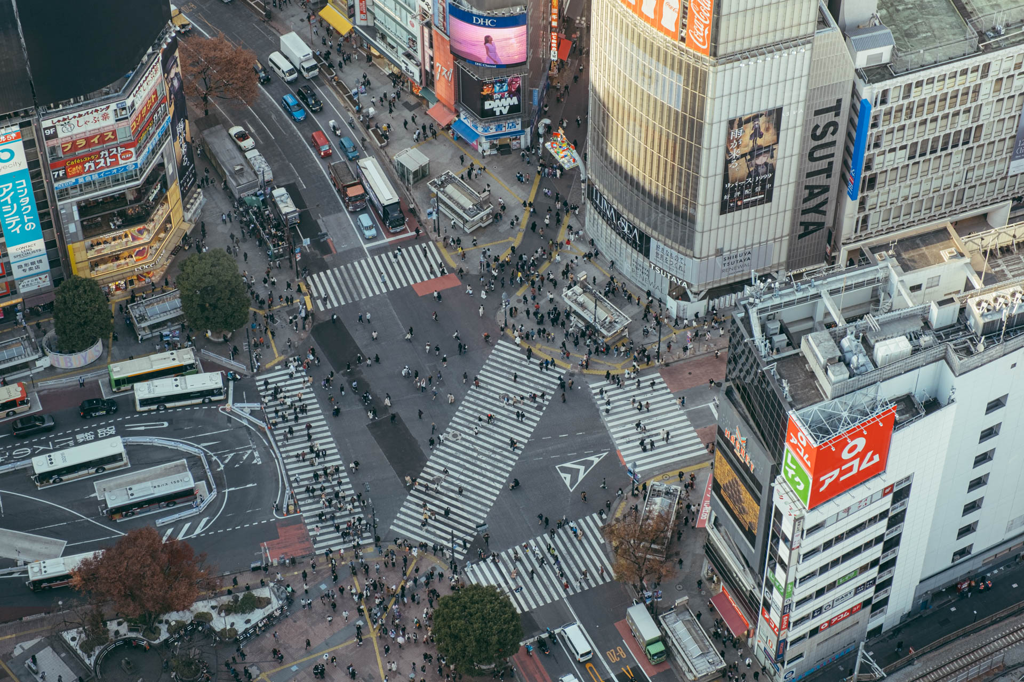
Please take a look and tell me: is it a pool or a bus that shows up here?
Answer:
bus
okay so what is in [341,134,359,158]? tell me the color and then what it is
blue car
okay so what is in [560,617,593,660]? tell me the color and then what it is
white van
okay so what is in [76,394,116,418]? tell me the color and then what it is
black car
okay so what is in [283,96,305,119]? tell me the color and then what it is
blue car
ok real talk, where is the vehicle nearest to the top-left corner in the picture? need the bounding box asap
[168,0,193,29]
